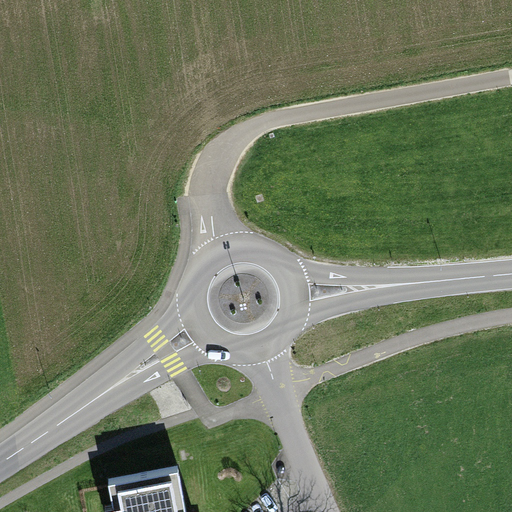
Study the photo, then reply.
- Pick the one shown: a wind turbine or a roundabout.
roundabout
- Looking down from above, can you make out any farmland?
Yes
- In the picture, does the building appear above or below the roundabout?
below it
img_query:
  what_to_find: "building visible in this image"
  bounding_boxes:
[102,465,192,512]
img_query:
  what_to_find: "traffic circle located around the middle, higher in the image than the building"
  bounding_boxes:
[118,196,385,404]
